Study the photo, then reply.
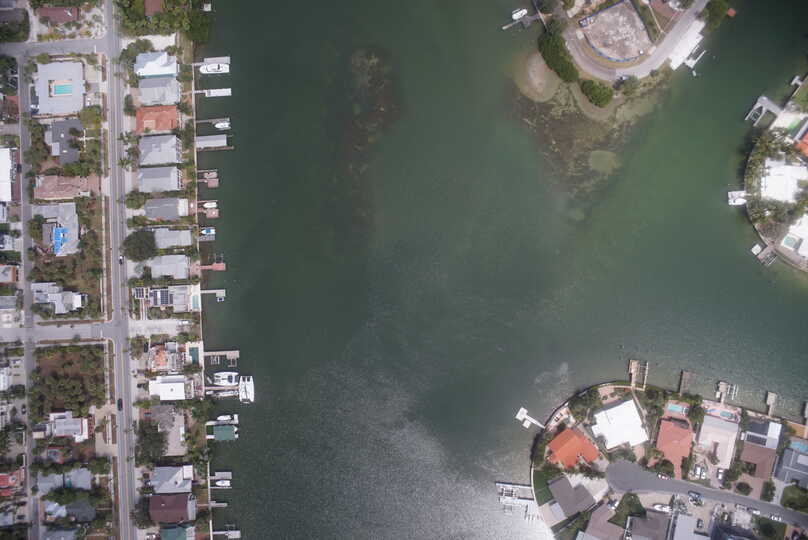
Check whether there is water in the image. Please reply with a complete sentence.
Yes, the picture does contain water.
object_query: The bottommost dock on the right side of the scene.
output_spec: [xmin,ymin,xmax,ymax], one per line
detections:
[495,482,538,515]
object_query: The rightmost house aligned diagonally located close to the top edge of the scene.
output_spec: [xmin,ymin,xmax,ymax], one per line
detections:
[668,21,705,72]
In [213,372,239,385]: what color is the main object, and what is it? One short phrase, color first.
white boat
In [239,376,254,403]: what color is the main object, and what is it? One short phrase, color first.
white boat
